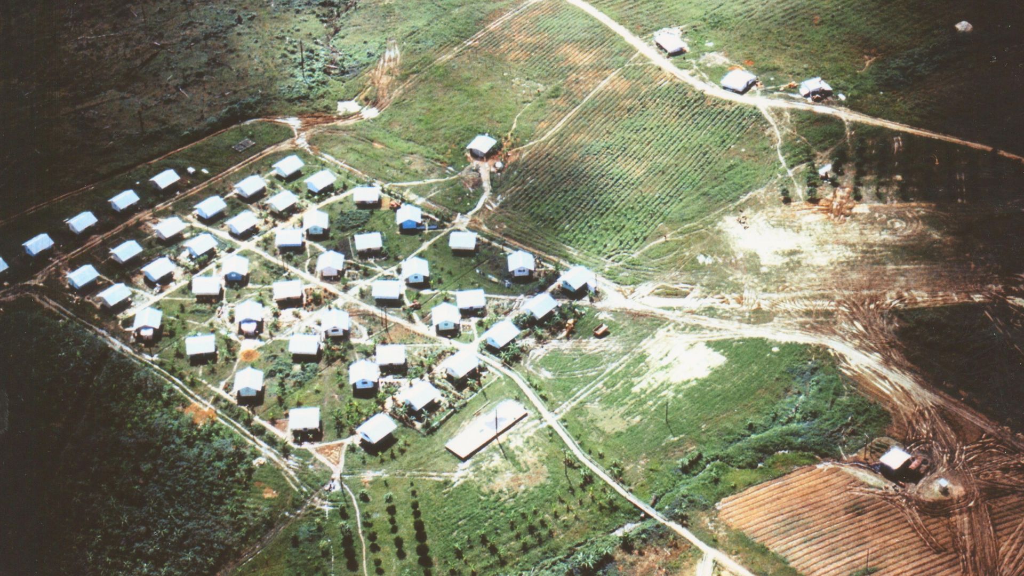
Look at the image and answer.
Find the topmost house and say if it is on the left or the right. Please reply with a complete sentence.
You can find the topmost house on the right side of the picture.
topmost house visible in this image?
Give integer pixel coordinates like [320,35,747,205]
[653,30,687,59]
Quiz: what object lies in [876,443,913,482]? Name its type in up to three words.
shed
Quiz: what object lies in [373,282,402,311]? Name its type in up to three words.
house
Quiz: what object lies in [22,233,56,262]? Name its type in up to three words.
house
